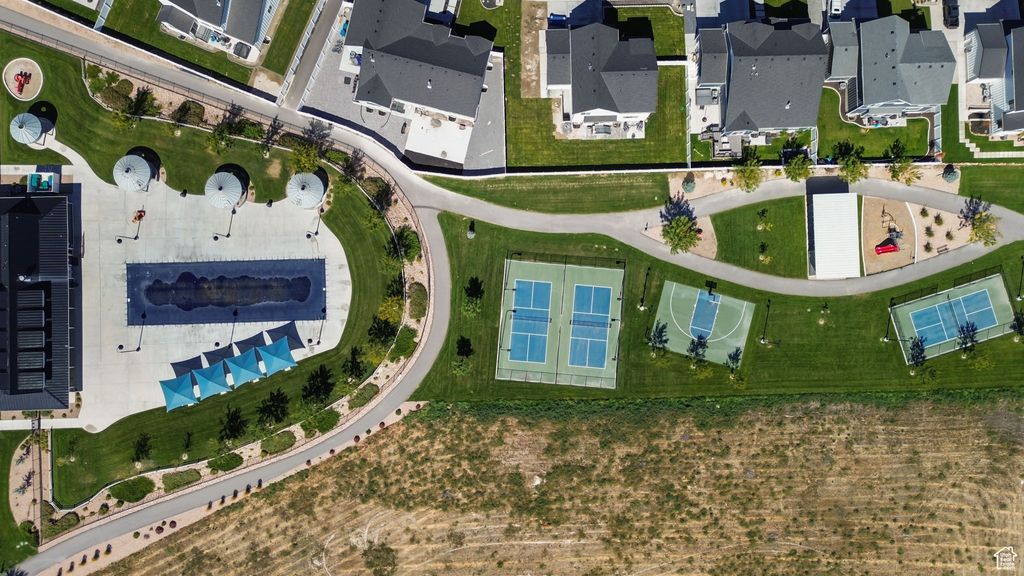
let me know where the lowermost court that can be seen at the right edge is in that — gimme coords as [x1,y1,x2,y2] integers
[889,273,1018,365]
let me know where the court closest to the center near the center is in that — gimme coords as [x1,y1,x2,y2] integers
[495,259,625,389]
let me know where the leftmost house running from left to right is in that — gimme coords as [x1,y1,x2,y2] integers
[158,0,279,54]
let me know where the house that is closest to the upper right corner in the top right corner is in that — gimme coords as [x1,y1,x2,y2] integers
[960,23,1024,131]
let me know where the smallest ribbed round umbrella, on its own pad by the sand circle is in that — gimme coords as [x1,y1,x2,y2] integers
[10,112,47,143]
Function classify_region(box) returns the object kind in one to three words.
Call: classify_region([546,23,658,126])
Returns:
house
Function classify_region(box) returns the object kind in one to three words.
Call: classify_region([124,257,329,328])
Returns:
swimming pool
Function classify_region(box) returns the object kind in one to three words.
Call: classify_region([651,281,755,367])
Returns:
basketball court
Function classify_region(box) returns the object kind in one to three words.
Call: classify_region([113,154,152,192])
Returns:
umbrella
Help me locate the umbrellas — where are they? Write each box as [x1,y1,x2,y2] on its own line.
[205,171,243,209]
[286,171,324,209]
[10,112,47,143]
[113,154,152,192]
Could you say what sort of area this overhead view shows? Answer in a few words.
residential area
